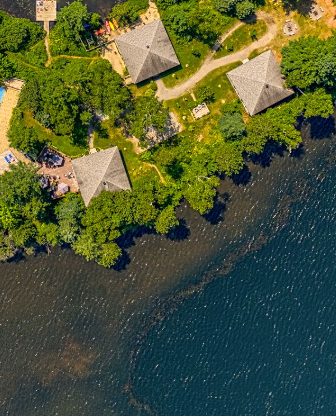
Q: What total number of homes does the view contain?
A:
3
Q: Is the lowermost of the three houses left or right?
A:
left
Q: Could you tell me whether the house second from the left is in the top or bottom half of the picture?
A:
top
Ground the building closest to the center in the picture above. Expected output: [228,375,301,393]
[71,145,130,206]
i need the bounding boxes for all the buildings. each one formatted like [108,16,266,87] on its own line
[227,50,291,116]
[71,145,130,206]
[114,19,181,84]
